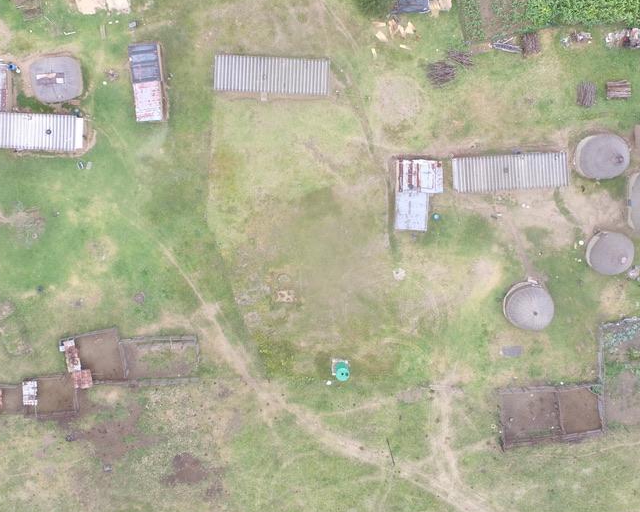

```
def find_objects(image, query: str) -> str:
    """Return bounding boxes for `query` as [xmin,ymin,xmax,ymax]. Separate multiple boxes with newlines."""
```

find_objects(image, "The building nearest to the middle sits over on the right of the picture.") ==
[393,160,443,231]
